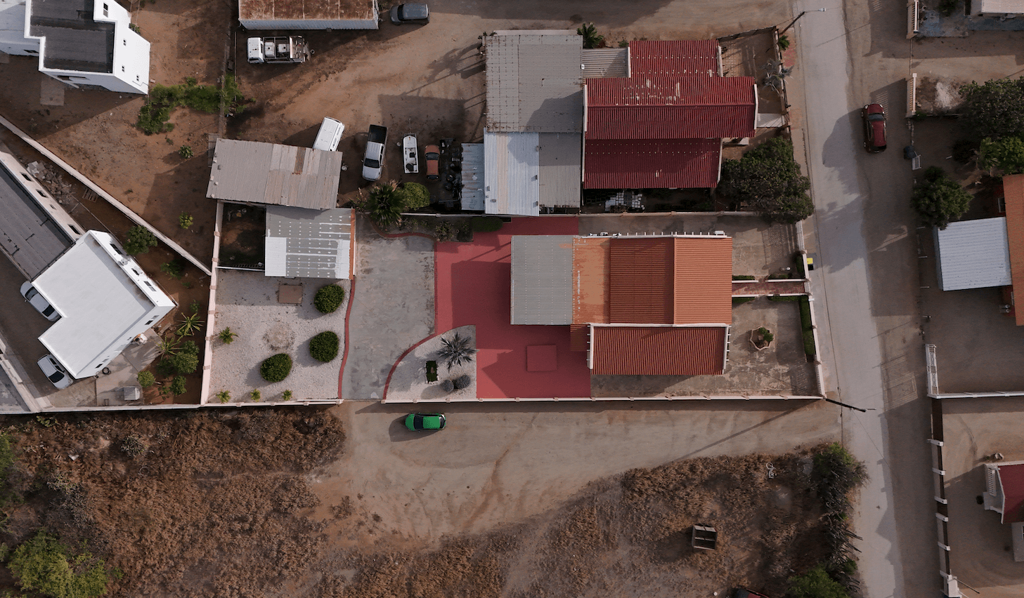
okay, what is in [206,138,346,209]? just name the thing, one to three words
shed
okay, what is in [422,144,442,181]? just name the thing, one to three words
car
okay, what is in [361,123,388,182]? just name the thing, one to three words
truck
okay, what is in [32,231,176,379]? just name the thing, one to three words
house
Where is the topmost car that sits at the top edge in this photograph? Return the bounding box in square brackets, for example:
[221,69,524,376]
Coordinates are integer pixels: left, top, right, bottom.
[390,1,431,26]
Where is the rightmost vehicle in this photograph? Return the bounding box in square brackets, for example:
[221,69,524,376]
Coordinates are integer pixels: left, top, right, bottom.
[860,104,887,153]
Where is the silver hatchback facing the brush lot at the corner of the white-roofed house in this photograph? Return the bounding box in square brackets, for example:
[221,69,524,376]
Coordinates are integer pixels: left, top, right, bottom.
[32,352,74,392]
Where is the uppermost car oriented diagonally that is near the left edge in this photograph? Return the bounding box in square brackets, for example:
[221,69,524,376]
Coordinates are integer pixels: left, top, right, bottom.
[18,281,62,327]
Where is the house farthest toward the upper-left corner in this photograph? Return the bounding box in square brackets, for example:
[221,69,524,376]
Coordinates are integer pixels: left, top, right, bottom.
[25,0,150,93]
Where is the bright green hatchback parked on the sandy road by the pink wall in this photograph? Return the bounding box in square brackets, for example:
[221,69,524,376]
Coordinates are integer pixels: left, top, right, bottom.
[406,412,447,433]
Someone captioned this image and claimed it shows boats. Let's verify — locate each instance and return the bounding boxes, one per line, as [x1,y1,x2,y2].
[402,134,418,174]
